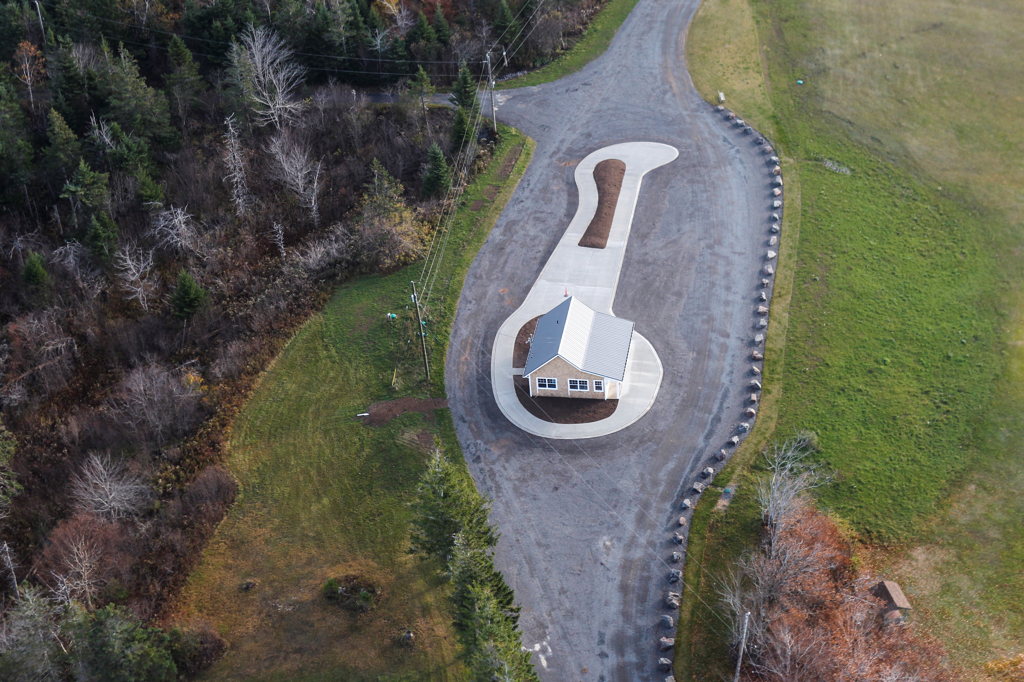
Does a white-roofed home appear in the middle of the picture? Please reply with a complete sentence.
Yes, in the middle of the picture there is a white-roofed home.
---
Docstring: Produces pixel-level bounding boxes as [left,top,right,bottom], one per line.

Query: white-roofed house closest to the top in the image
[522,296,634,399]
